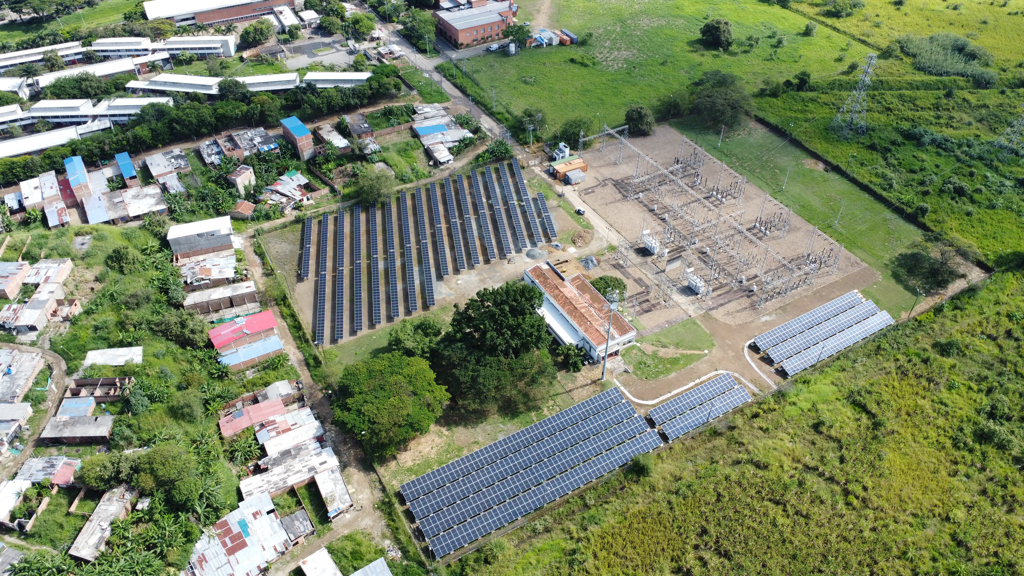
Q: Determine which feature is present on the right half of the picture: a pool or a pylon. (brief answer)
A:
pylon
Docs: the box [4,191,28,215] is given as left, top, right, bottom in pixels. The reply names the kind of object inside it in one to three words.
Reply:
shed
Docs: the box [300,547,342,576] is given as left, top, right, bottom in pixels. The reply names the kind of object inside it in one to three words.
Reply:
house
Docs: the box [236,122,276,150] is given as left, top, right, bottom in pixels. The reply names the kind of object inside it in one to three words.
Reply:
house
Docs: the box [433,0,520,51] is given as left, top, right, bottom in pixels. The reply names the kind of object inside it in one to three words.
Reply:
building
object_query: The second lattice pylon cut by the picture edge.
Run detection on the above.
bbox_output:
[978,81,1024,156]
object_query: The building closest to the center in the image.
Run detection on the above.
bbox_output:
[524,260,637,367]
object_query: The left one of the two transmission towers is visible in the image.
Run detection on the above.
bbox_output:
[829,53,883,138]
